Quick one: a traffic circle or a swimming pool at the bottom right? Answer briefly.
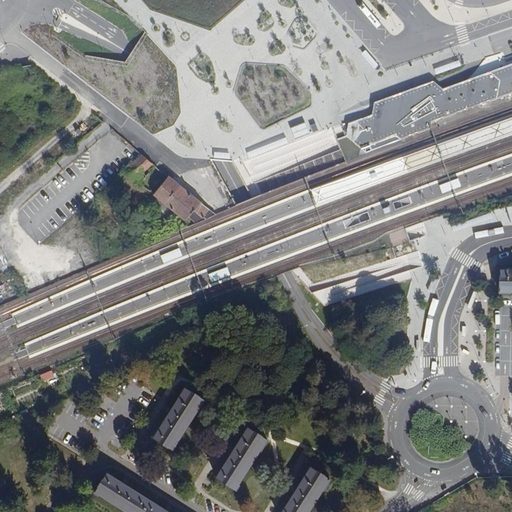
traffic circle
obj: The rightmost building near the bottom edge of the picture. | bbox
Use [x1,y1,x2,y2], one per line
[282,468,330,512]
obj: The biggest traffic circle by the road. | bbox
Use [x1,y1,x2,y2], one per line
[388,370,498,482]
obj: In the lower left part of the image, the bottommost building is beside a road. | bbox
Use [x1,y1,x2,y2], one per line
[92,474,168,512]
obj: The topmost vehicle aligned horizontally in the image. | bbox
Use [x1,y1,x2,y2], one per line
[473,228,504,240]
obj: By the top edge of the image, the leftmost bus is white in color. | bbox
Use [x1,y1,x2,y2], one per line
[360,2,383,29]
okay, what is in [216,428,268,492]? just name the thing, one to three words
building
